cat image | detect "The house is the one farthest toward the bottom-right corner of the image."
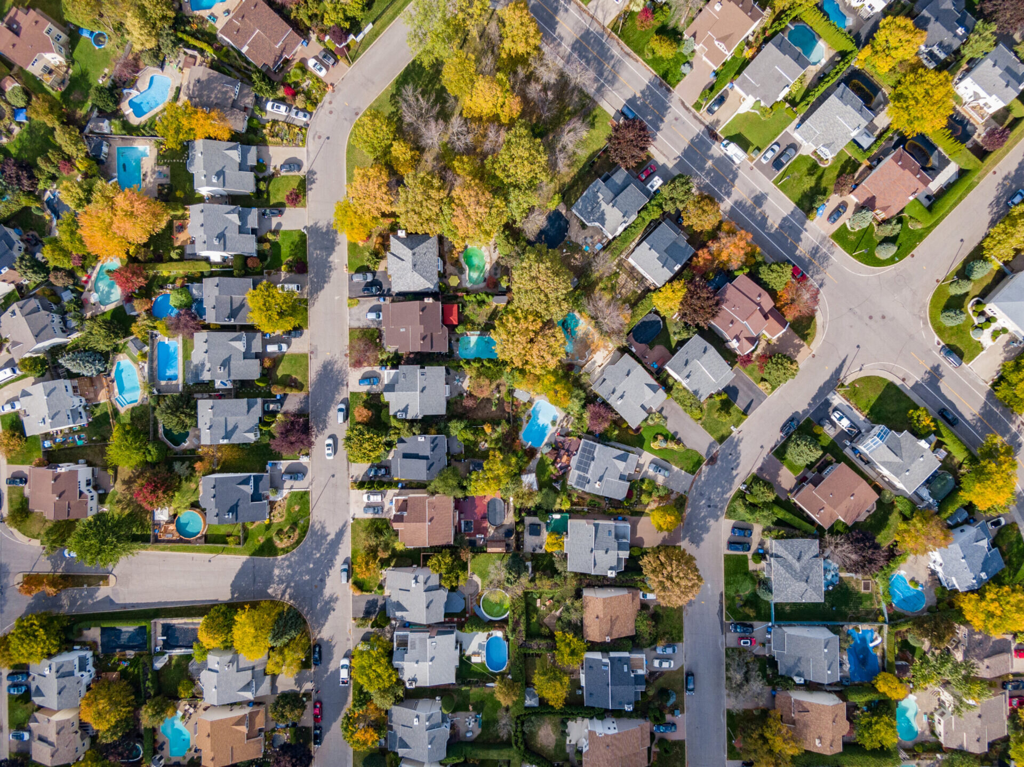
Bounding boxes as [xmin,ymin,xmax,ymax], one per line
[922,693,1007,754]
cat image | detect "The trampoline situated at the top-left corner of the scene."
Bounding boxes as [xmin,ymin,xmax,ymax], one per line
[92,32,108,48]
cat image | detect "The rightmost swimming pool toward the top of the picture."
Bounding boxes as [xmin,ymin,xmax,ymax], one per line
[947,110,979,145]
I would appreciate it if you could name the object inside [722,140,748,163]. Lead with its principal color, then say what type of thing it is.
white vehicle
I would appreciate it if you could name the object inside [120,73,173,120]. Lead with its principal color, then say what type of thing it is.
blue swimming pool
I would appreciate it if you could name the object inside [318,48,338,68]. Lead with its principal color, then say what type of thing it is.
gray car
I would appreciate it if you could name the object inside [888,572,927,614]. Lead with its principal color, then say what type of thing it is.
blue swimming pool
